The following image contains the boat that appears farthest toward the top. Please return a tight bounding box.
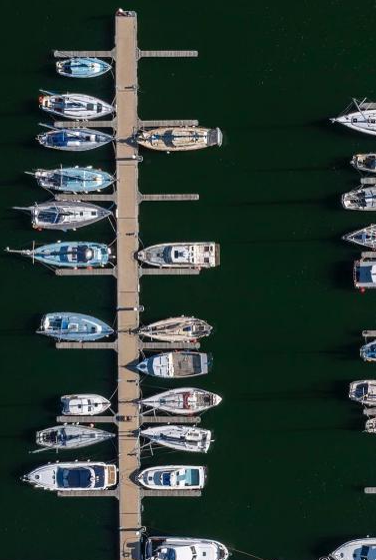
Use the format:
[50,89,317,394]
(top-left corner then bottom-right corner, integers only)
[55,56,117,79]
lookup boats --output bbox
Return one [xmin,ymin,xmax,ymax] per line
[21,422,118,461]
[351,153,376,173]
[366,414,376,435]
[26,165,117,198]
[342,182,376,212]
[330,98,376,136]
[20,458,121,491]
[349,381,376,411]
[354,260,376,291]
[29,123,117,154]
[133,349,216,382]
[134,237,224,271]
[38,313,119,344]
[15,197,117,233]
[115,314,215,344]
[330,533,376,560]
[134,384,224,421]
[142,531,259,560]
[131,421,219,465]
[341,224,376,254]
[8,239,117,273]
[112,118,220,153]
[361,336,376,362]
[136,465,213,490]
[35,87,117,123]
[63,391,117,416]
[55,56,117,79]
